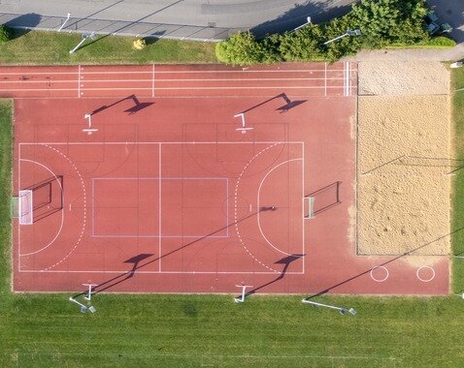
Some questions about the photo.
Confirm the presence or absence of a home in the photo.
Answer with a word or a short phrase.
No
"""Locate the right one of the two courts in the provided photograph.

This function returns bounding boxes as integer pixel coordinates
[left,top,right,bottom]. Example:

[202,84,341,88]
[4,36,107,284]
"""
[356,95,459,256]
